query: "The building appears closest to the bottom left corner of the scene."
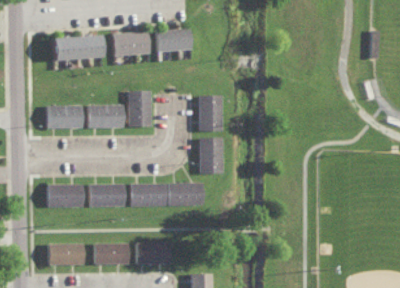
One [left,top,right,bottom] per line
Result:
[48,244,86,266]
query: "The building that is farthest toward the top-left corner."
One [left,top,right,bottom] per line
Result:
[52,34,107,69]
